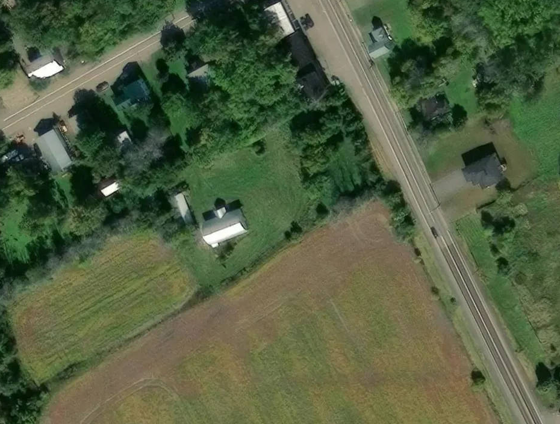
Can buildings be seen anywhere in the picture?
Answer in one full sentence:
Yes, the picture does show a building.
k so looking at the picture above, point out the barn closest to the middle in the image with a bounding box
[201,203,250,248]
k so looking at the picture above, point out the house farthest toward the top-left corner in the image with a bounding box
[26,50,67,81]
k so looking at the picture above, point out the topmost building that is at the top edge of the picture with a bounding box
[268,0,298,36]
